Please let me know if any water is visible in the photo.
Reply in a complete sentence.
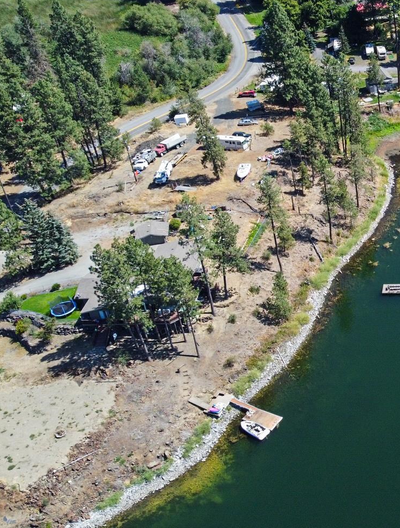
Yes, the picture does contain water.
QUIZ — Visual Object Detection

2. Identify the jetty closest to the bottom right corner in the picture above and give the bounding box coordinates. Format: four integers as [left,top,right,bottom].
[242,409,284,432]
